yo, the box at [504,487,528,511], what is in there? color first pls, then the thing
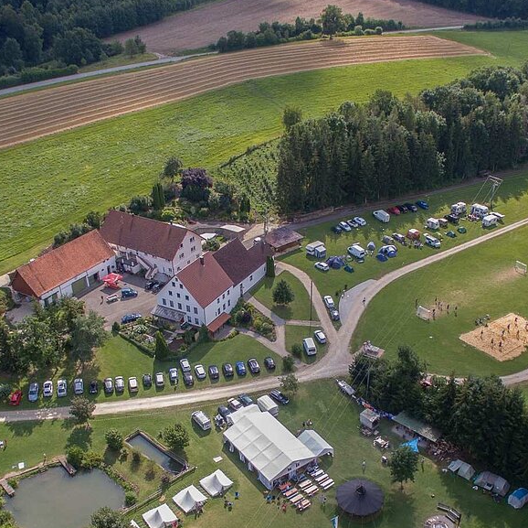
blue tent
